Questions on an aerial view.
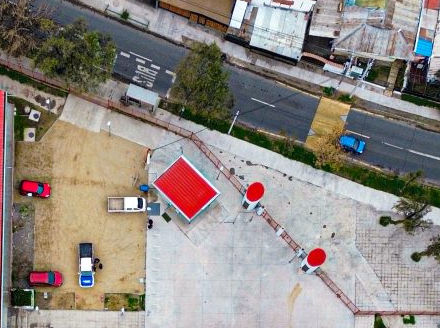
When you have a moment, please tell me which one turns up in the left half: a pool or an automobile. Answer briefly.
automobile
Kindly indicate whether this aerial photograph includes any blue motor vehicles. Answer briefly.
Yes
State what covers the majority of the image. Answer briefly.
paved ground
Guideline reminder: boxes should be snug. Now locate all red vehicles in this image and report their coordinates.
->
[29,269,63,287]
[19,180,51,199]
